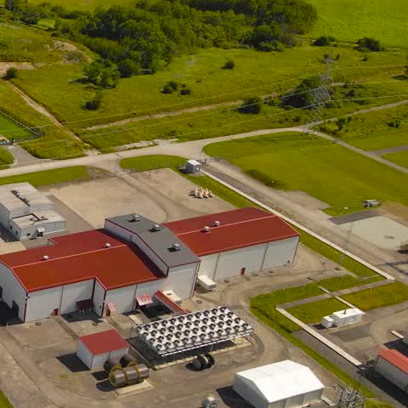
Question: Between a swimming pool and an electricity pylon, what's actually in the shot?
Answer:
electricity pylon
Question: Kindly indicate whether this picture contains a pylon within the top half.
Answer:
Yes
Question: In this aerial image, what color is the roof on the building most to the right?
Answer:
red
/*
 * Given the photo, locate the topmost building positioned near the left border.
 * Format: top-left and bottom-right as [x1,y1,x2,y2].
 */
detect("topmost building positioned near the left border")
[0,182,68,240]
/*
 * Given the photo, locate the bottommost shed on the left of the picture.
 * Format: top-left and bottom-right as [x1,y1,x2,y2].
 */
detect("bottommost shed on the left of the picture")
[74,328,132,370]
